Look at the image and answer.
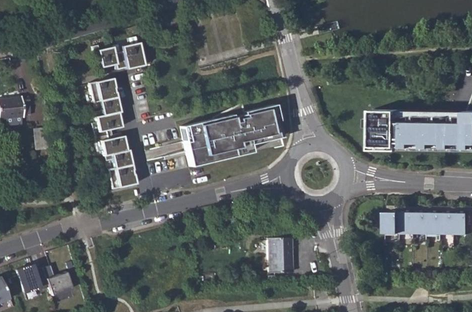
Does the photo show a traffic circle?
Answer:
Yes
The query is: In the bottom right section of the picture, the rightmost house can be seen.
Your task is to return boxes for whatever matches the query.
[404,213,466,241]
